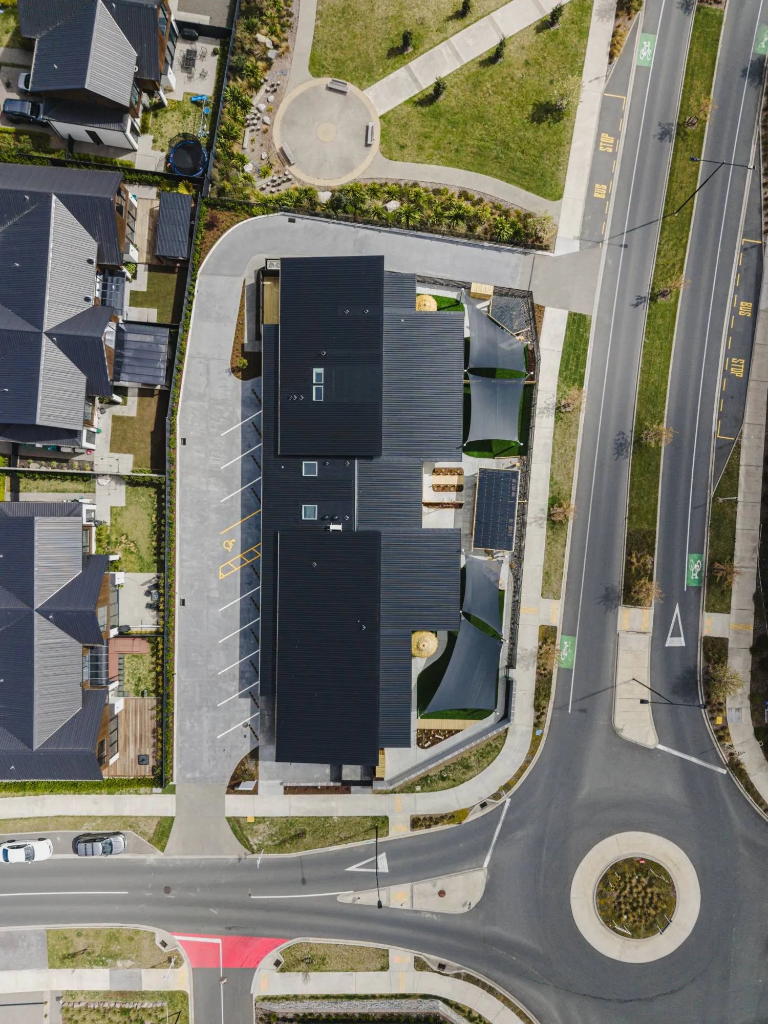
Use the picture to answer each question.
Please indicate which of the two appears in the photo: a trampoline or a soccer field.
trampoline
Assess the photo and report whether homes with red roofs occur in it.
No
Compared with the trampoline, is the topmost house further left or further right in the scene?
left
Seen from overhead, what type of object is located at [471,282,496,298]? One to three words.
shed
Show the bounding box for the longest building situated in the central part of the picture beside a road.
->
[258,254,465,787]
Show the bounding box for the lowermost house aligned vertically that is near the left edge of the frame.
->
[0,502,118,781]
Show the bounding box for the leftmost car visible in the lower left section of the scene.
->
[0,835,52,865]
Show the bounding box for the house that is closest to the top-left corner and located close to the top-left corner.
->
[15,0,179,151]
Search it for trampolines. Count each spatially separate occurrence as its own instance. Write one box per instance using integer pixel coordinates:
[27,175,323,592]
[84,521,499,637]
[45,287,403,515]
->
[165,127,208,174]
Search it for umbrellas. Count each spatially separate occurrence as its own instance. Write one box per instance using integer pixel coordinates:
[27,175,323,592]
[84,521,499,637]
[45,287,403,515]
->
[411,634,438,656]
[416,295,435,306]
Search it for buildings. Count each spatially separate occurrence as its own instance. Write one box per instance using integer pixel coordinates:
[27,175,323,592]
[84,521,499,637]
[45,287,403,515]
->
[15,0,179,151]
[471,282,496,298]
[0,163,136,447]
[0,502,118,781]
[258,254,465,787]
